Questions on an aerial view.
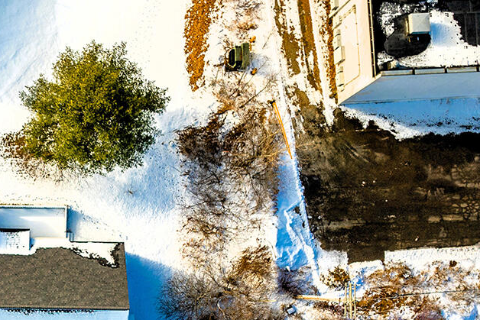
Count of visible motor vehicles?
0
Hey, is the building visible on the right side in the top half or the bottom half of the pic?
top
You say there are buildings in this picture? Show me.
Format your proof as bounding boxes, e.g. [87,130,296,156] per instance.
[0,228,134,320]
[320,0,480,101]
